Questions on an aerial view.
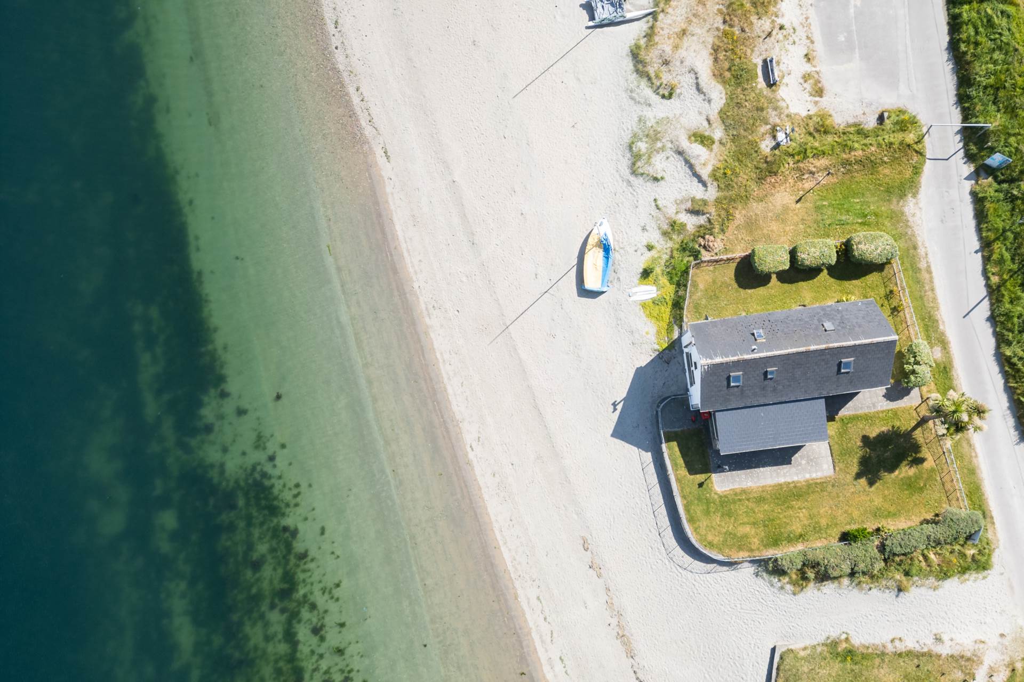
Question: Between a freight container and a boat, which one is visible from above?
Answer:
boat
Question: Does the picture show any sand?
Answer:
Yes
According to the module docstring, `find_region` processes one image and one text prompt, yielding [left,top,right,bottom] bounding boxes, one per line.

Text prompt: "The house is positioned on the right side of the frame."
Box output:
[678,298,899,456]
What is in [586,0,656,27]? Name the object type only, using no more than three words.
boat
